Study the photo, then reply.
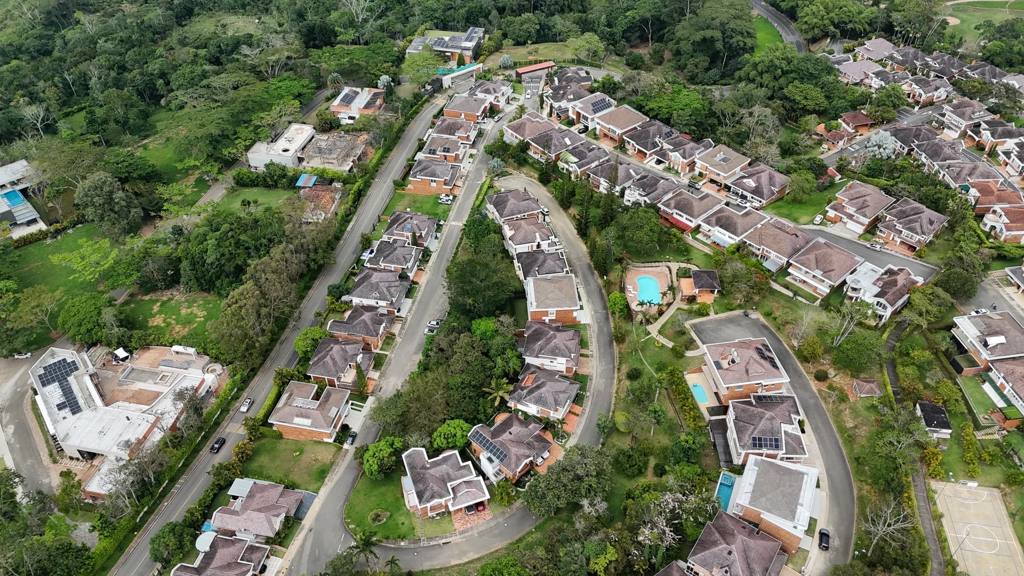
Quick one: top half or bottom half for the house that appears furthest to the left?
bottom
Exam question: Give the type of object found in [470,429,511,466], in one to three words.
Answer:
solar array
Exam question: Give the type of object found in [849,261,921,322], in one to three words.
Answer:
house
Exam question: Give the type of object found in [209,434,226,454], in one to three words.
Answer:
car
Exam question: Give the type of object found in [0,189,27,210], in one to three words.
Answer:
swimming pool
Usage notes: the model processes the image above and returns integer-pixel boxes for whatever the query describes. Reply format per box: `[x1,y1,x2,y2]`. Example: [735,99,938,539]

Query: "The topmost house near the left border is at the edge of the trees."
[28,345,221,503]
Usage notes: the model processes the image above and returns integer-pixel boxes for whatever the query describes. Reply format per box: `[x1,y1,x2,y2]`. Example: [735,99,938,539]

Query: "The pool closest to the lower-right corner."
[713,471,738,514]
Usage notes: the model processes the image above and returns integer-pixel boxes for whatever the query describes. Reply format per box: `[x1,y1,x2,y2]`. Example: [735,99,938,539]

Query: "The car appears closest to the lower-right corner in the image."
[819,528,831,551]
